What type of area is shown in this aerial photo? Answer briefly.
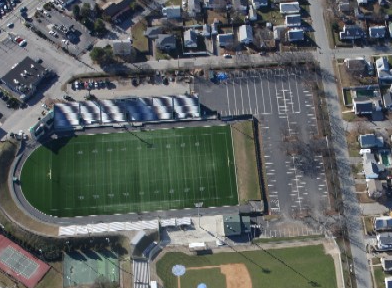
sports ground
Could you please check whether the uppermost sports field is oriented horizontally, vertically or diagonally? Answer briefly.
horizontally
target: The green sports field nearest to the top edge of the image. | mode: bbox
[20,125,239,218]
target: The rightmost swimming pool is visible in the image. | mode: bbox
[378,155,392,169]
